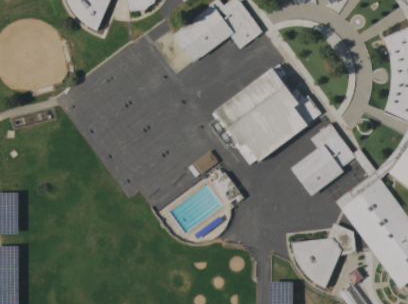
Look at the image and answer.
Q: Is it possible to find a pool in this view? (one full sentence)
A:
Yes, there's a pool here.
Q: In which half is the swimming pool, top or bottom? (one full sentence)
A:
The swimming pool sits in the bottom half of the picture.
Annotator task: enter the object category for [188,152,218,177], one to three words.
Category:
shed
